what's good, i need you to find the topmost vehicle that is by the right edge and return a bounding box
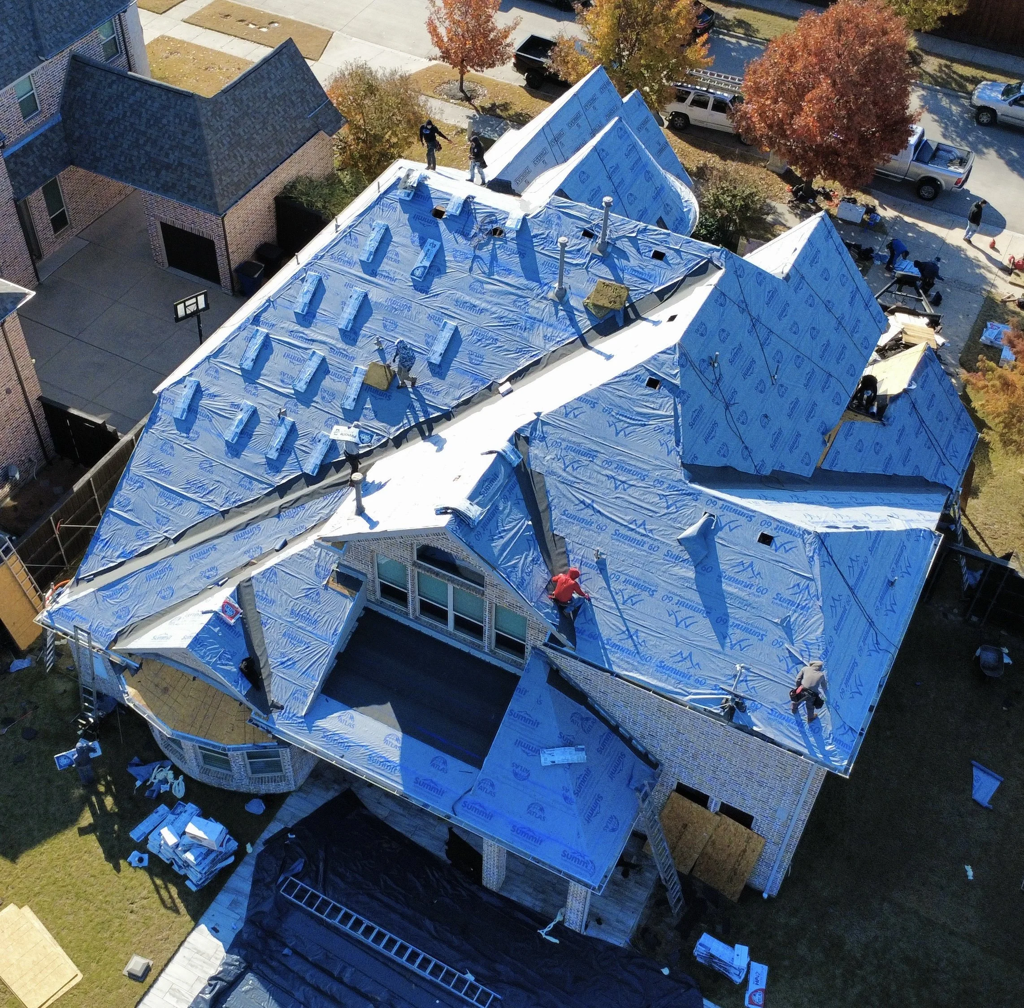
[962,79,1024,128]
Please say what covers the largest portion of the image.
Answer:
buildings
